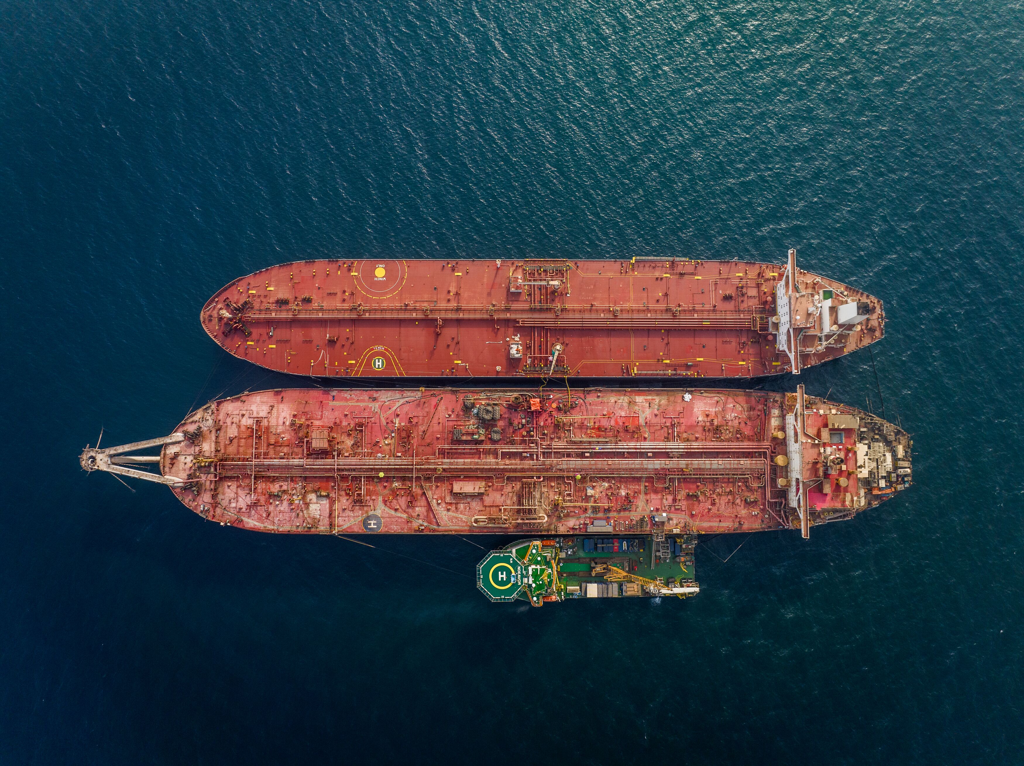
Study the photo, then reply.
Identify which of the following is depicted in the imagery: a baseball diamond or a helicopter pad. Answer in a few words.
helicopter pad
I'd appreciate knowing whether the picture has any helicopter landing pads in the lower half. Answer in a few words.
Yes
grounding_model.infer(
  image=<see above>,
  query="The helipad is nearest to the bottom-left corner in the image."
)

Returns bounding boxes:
[362,512,383,532]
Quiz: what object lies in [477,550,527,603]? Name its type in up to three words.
helipad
